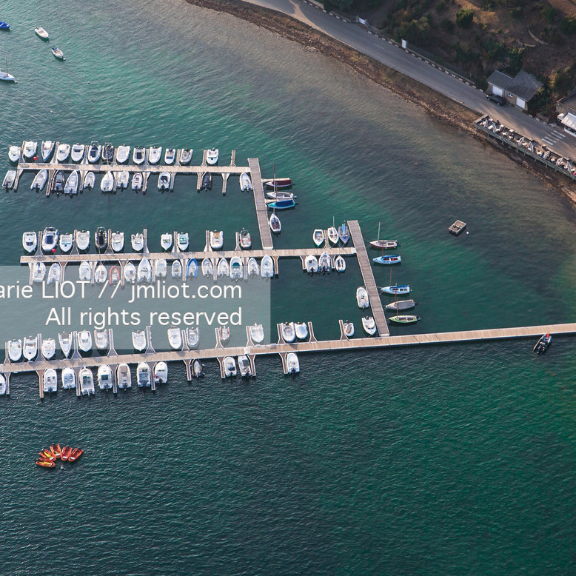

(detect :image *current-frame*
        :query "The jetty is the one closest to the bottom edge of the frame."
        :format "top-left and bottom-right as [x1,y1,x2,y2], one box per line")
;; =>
[0,319,576,399]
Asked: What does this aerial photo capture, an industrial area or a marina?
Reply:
marina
